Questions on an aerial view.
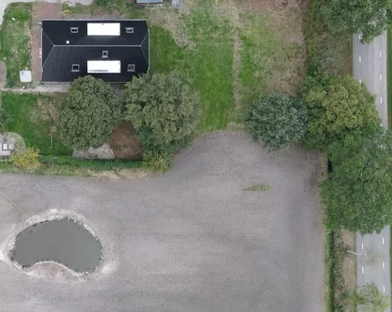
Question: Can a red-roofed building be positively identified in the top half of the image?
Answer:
No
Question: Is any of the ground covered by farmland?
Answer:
Yes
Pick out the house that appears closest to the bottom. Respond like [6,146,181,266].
[42,18,150,84]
